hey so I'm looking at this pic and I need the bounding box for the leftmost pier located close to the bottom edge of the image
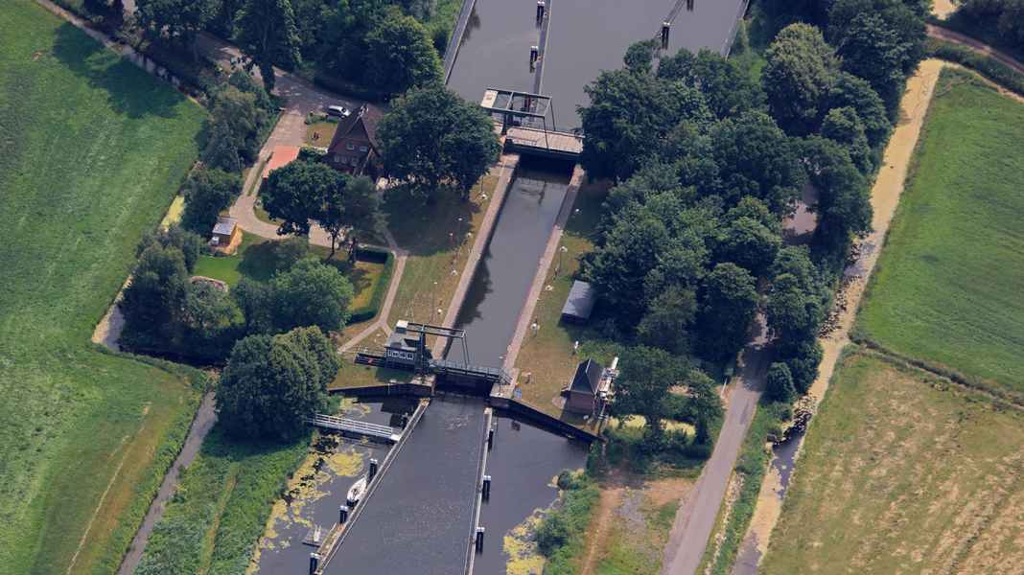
[313,396,434,575]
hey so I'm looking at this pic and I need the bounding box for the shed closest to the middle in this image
[563,282,595,330]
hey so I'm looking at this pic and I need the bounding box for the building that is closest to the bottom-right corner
[559,356,605,408]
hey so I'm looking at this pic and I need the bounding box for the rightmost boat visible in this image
[348,472,367,503]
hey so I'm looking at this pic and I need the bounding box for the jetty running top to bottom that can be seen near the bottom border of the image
[462,405,495,575]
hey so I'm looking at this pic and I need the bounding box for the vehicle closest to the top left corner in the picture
[325,103,349,118]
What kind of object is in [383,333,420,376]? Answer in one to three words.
shed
